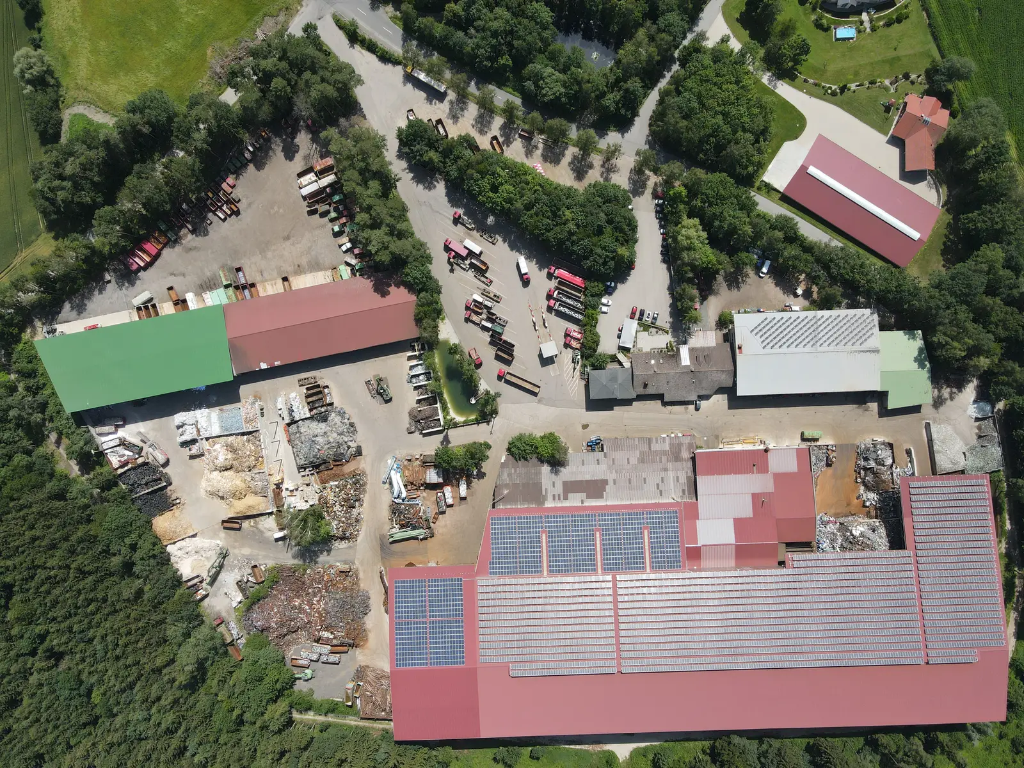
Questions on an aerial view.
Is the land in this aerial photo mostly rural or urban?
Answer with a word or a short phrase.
urban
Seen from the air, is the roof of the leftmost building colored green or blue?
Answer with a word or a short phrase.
green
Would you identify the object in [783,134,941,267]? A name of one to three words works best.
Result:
building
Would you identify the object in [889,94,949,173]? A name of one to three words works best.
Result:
house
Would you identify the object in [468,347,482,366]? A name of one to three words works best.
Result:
vehicle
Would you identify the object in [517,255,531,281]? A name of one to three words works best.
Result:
vehicle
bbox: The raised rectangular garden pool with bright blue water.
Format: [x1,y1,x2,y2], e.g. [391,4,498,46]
[832,24,858,42]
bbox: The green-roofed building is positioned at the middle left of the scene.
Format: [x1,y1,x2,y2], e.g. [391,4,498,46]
[35,305,241,413]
